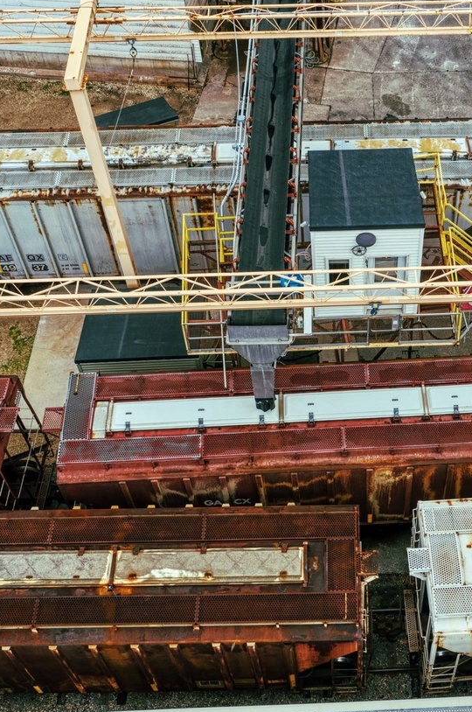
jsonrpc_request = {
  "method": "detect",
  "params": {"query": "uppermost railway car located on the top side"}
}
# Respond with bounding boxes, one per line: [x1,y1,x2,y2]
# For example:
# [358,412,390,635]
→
[0,118,472,290]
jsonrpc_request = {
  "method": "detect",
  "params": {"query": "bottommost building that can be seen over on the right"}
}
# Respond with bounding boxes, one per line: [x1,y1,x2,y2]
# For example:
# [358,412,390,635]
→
[290,148,440,322]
